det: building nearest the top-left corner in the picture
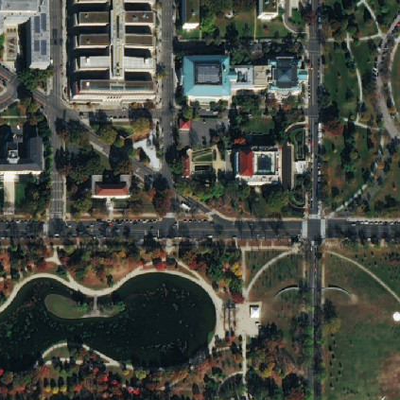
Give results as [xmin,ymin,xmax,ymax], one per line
[0,0,51,67]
